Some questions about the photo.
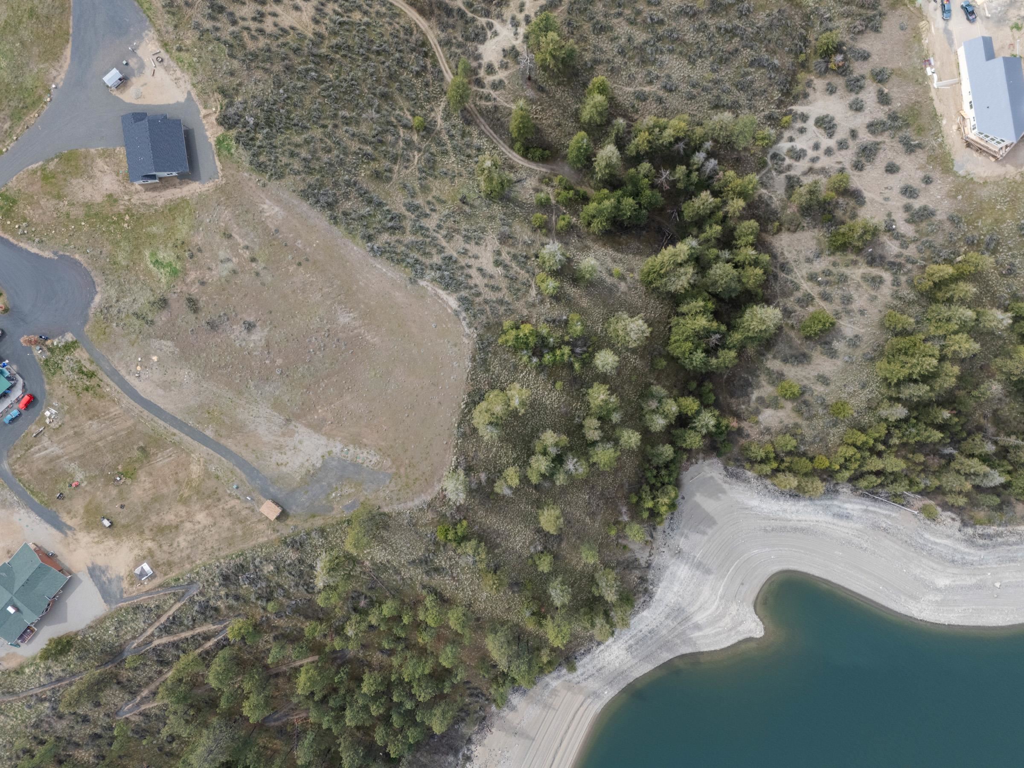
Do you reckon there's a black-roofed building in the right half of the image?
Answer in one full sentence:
No, I can find no black-roofed building in the right half of the image.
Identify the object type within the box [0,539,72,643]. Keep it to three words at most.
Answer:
building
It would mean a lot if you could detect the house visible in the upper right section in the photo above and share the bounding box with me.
[956,36,1024,146]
